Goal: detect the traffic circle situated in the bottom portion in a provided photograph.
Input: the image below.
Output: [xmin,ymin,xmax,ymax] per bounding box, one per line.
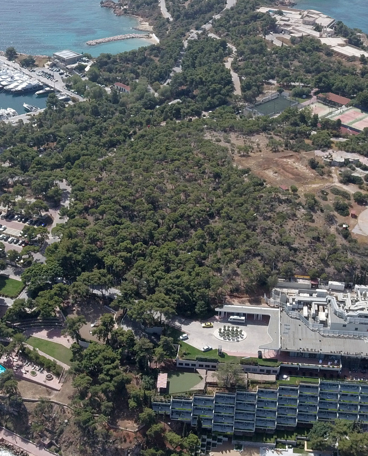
[212,324,248,347]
